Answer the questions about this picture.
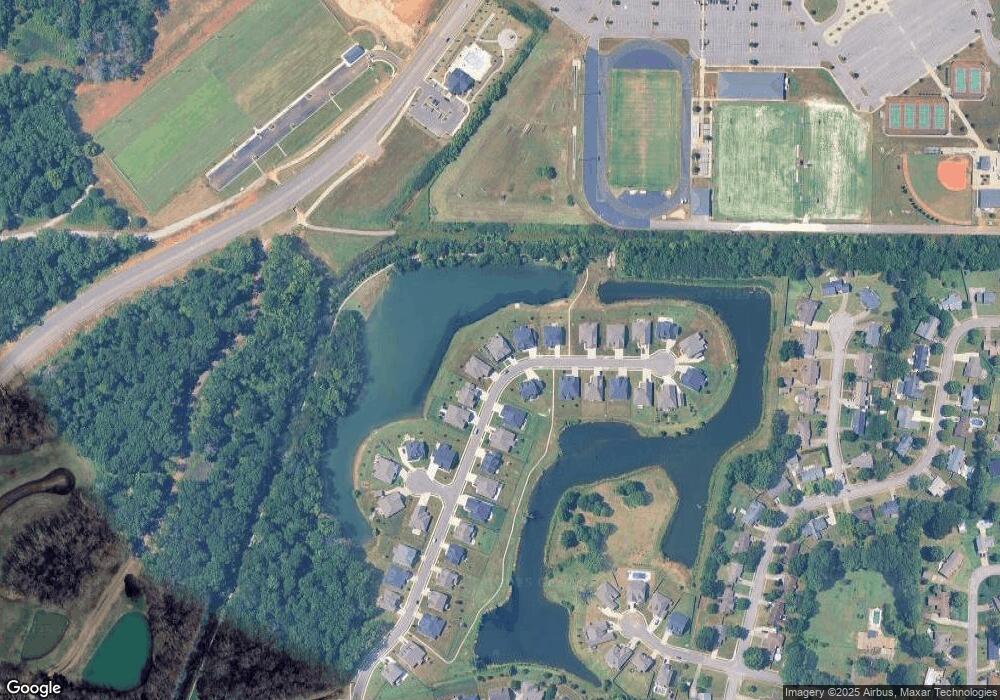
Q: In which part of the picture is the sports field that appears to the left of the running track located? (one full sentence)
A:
You can find the sports field that appears to the left of the running track in the top left area of the picture.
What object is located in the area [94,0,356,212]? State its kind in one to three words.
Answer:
sports field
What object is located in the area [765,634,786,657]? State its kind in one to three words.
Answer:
house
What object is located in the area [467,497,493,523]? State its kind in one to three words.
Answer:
house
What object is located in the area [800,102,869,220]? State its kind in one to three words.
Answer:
sports field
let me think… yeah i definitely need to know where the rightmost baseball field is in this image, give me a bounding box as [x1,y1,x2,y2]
[902,151,972,225]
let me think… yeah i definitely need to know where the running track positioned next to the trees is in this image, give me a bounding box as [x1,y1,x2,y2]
[584,39,692,228]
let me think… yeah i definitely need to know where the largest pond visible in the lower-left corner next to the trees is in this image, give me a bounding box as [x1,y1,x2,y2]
[82,611,151,690]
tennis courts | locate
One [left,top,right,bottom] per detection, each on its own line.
[904,103,915,128]
[919,103,930,128]
[890,103,900,128]
[970,68,980,93]
[934,103,945,128]
[955,68,967,93]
